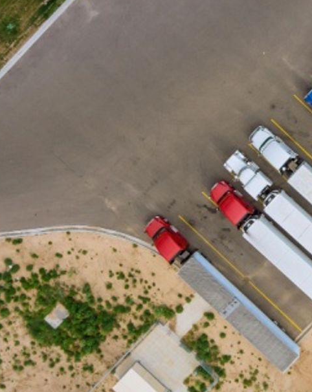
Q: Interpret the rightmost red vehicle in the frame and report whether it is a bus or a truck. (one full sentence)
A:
From above, the rightmost red vehicle can be identified as a truck.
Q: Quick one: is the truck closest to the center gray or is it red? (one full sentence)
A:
The truck closest to the center looks red in the image.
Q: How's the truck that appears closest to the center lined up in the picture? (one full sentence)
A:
The truck that appears closest to the center runs at an angle in the image.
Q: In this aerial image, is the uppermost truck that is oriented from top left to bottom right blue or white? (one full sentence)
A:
The color of the uppermost truck that is oriented from top left to bottom right is white.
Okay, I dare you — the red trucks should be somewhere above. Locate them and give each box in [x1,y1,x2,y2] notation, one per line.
[210,178,278,227]
[147,215,215,263]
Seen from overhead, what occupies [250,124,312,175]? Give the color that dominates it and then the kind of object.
white truck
